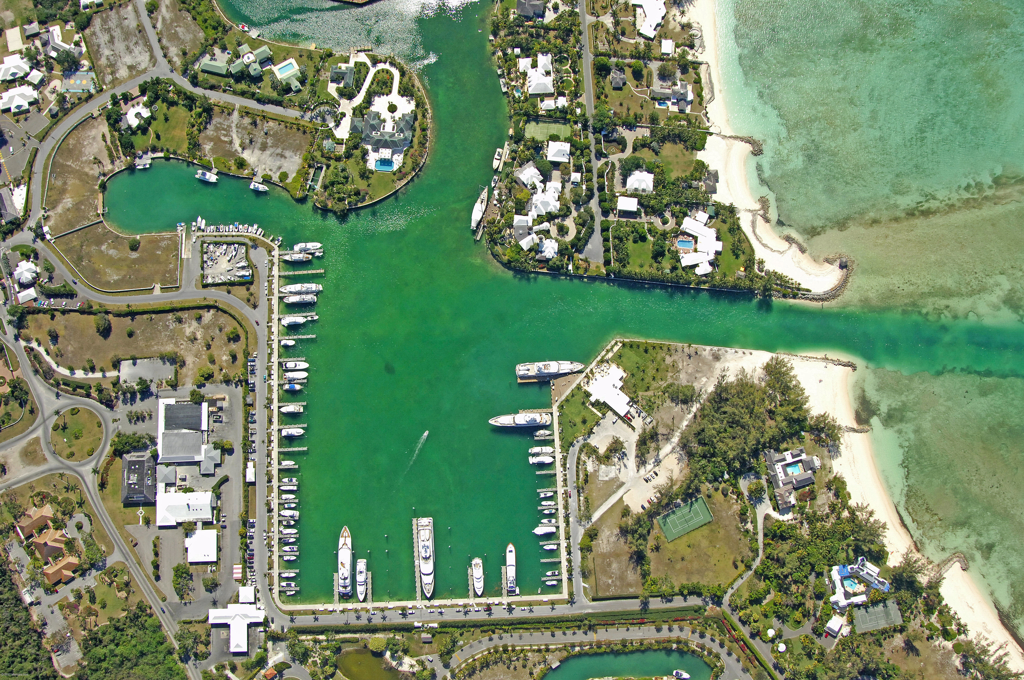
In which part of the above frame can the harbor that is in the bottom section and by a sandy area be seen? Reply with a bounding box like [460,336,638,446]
[192,231,616,610]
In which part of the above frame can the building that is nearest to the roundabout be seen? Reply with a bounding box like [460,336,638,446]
[121,453,157,503]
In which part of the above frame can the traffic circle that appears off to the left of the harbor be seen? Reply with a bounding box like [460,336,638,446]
[42,399,112,470]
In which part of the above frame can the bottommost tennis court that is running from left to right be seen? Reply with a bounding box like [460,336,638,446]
[852,601,904,631]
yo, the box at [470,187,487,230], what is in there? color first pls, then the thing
white boat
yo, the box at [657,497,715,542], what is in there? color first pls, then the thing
green tennis court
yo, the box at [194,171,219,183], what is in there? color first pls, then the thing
white boat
